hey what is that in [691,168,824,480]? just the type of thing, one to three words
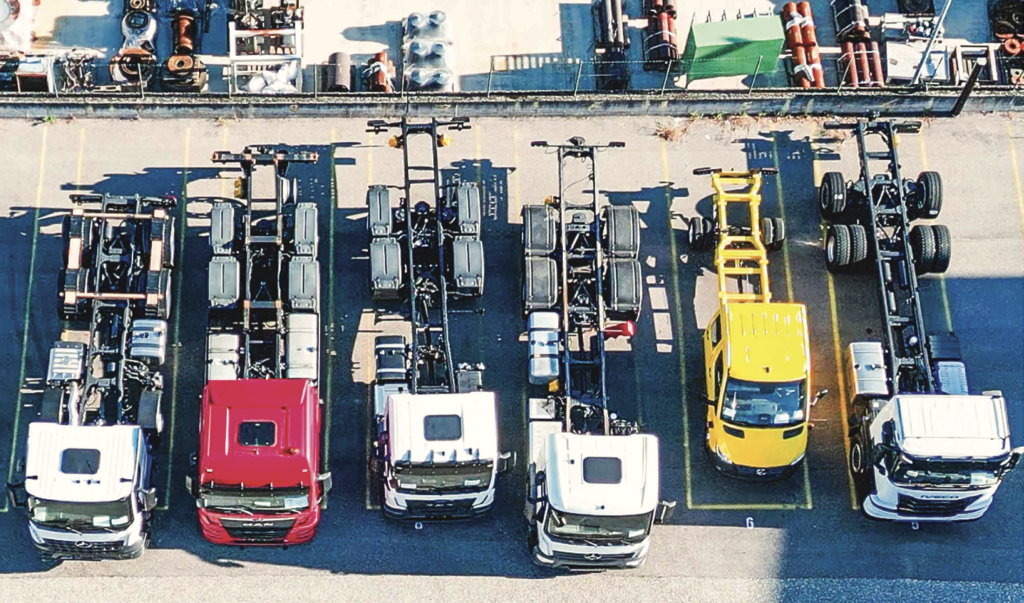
van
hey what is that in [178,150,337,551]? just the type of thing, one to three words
truck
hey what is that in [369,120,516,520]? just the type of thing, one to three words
truck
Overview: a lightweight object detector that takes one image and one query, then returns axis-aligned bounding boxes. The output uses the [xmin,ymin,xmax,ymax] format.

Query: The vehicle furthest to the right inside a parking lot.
[823,113,1024,525]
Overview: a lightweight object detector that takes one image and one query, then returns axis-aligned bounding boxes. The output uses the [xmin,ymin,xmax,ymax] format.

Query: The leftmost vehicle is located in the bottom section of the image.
[7,197,176,558]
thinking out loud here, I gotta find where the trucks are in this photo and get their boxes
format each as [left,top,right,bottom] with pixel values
[522,135,676,567]
[823,113,1024,525]
[7,197,176,558]
[178,150,337,551]
[369,120,516,520]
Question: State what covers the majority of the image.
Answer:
paved ground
